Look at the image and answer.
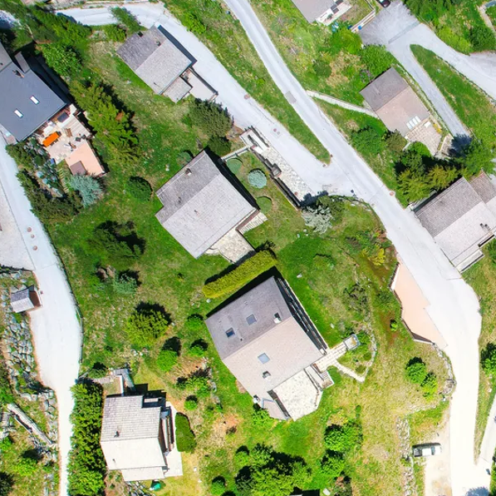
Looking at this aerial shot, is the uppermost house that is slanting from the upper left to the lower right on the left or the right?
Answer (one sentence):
The uppermost house that is slanting from the upper left to the lower right sits on the left side.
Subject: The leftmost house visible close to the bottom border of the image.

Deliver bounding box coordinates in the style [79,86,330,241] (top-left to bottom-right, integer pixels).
[99,374,187,481]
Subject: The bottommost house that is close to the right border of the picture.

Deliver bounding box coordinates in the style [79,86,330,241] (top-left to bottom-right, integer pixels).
[408,171,496,273]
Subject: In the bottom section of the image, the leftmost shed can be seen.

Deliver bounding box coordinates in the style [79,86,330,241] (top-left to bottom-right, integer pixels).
[9,287,50,312]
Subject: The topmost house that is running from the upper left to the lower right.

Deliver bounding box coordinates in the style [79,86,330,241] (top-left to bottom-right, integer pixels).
[120,25,222,110]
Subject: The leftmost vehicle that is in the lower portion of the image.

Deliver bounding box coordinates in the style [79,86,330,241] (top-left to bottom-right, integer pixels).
[413,443,442,456]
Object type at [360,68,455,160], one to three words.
house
